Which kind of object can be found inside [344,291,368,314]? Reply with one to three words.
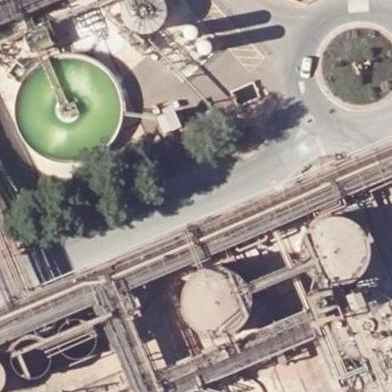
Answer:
building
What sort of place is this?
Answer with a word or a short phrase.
industrial area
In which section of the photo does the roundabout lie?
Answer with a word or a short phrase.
top right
